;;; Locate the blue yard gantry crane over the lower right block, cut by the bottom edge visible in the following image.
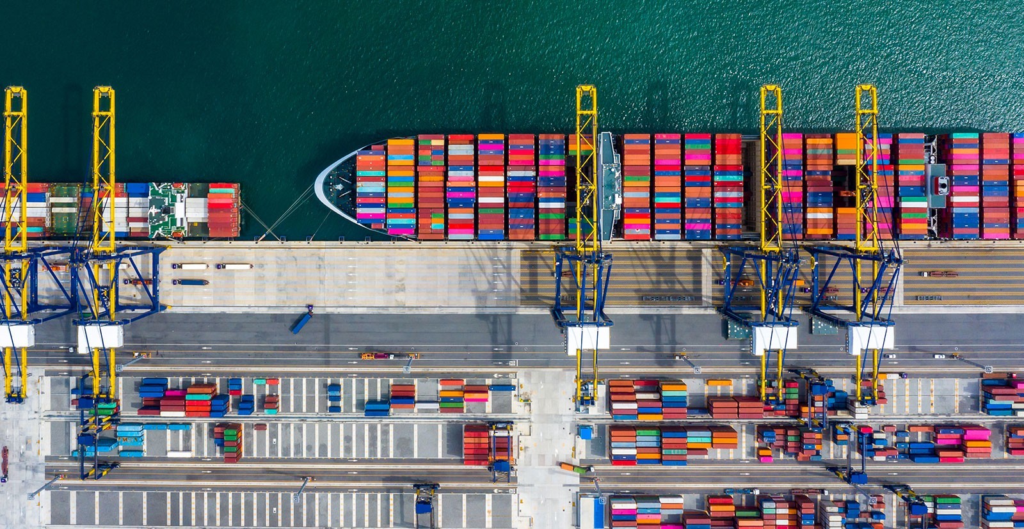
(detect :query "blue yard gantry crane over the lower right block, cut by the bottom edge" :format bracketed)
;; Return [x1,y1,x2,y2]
[885,483,929,529]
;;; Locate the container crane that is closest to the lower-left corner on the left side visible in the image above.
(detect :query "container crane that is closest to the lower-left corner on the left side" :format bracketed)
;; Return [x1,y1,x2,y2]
[78,419,123,486]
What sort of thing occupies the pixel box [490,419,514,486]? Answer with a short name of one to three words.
container crane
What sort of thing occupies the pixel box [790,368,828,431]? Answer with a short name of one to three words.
container crane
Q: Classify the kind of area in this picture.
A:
port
